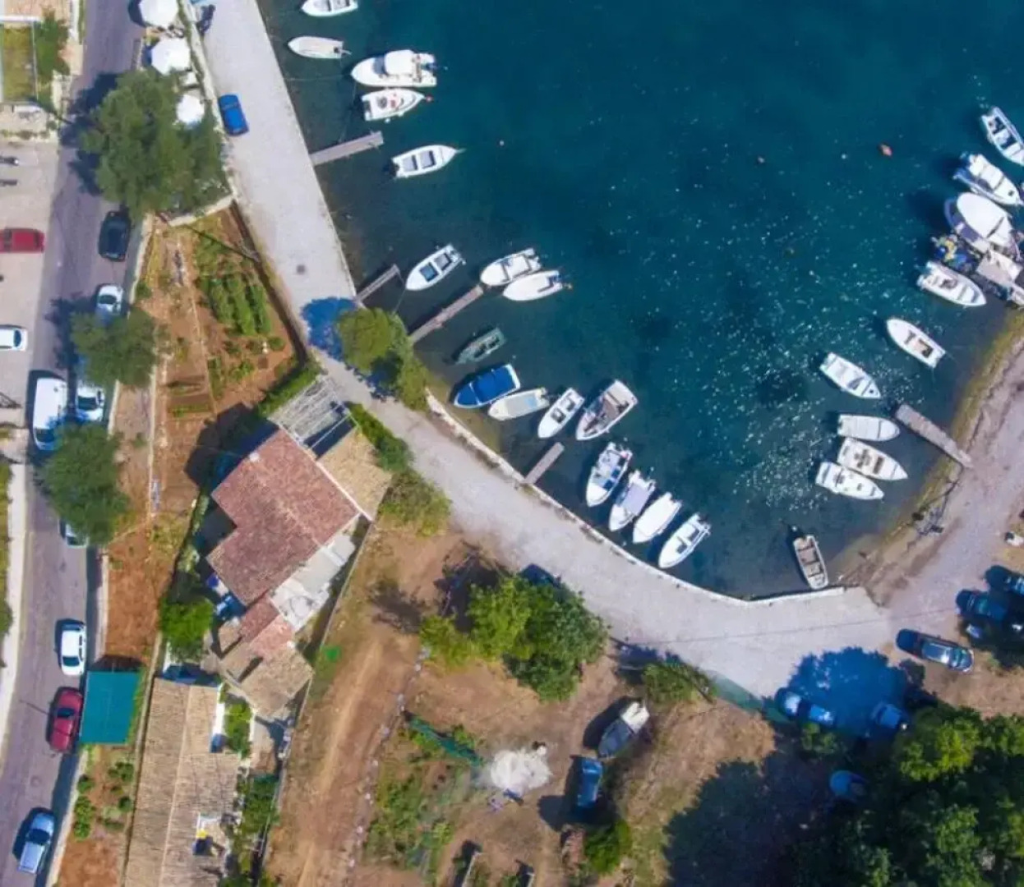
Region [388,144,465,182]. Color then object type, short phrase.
white boat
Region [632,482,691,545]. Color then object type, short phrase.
white boat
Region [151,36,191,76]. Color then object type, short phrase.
white umbrella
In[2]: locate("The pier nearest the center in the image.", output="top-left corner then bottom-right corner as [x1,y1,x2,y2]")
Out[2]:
[520,442,567,488]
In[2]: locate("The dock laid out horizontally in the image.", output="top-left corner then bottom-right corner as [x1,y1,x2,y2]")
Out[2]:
[308,129,385,163]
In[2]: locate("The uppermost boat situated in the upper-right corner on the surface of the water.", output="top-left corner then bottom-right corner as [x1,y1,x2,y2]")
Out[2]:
[971,98,1024,166]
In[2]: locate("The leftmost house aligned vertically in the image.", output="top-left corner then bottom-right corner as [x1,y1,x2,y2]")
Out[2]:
[123,674,239,887]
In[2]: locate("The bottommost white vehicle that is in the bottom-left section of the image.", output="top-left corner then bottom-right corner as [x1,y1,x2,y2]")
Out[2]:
[58,620,90,675]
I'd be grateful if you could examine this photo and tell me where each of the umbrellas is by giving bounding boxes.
[177,96,207,126]
[151,36,191,76]
[138,0,180,28]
